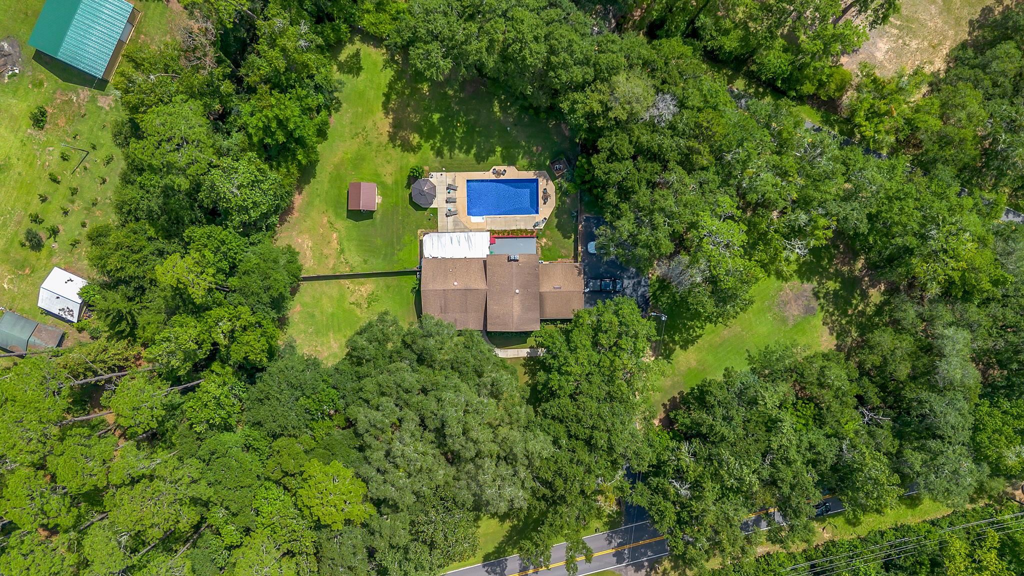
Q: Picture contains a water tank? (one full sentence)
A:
No, I can see no water tank in this picture.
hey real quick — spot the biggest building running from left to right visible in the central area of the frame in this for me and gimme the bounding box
[421,254,584,332]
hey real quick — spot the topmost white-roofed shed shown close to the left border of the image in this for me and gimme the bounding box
[38,267,95,323]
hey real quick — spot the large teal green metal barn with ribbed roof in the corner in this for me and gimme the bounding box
[29,0,146,83]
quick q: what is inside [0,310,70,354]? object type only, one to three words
shed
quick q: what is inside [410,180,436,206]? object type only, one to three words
gazebo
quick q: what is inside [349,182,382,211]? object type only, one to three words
shed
